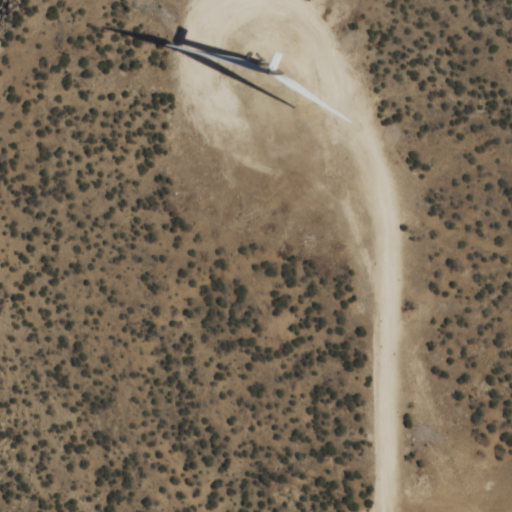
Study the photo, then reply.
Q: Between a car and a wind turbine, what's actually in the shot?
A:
wind turbine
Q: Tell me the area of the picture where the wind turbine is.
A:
top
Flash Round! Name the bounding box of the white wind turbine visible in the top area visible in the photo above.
[166,46,352,124]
